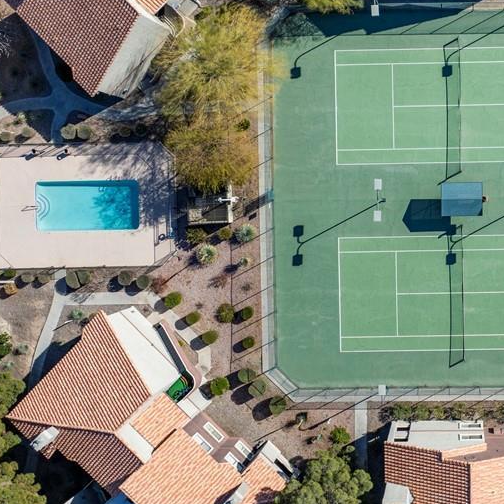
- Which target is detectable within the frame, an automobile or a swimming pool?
swimming pool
